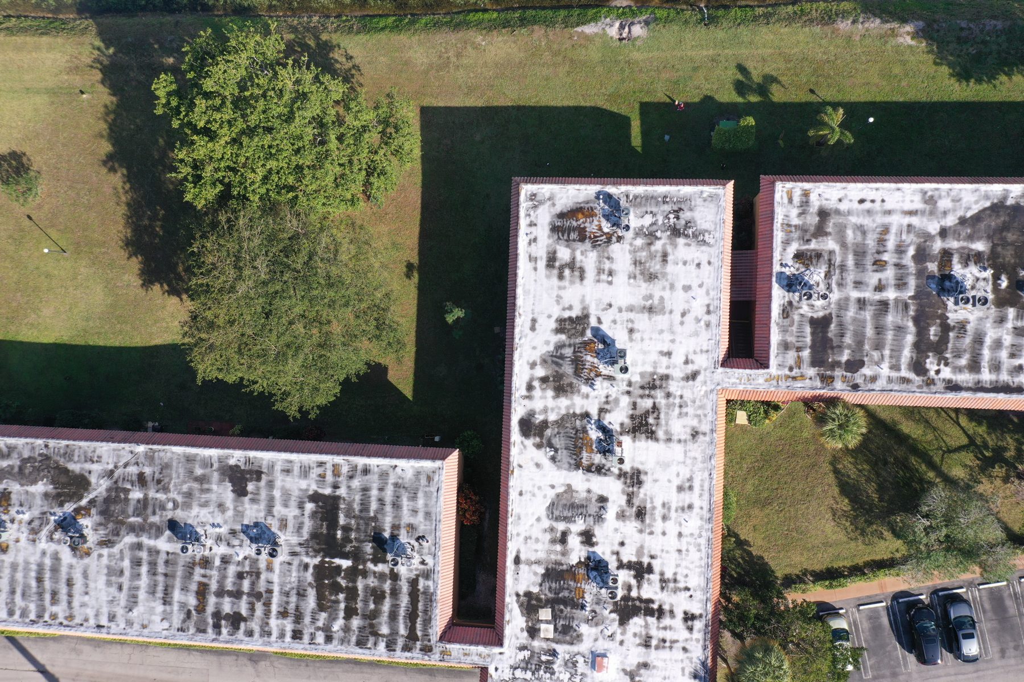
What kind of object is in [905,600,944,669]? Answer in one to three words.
car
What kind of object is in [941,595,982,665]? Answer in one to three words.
car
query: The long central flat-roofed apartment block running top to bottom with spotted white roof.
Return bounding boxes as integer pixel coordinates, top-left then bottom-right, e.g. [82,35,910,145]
[477,175,737,682]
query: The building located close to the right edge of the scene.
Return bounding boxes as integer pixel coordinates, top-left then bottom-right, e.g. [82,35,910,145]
[718,172,1024,413]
